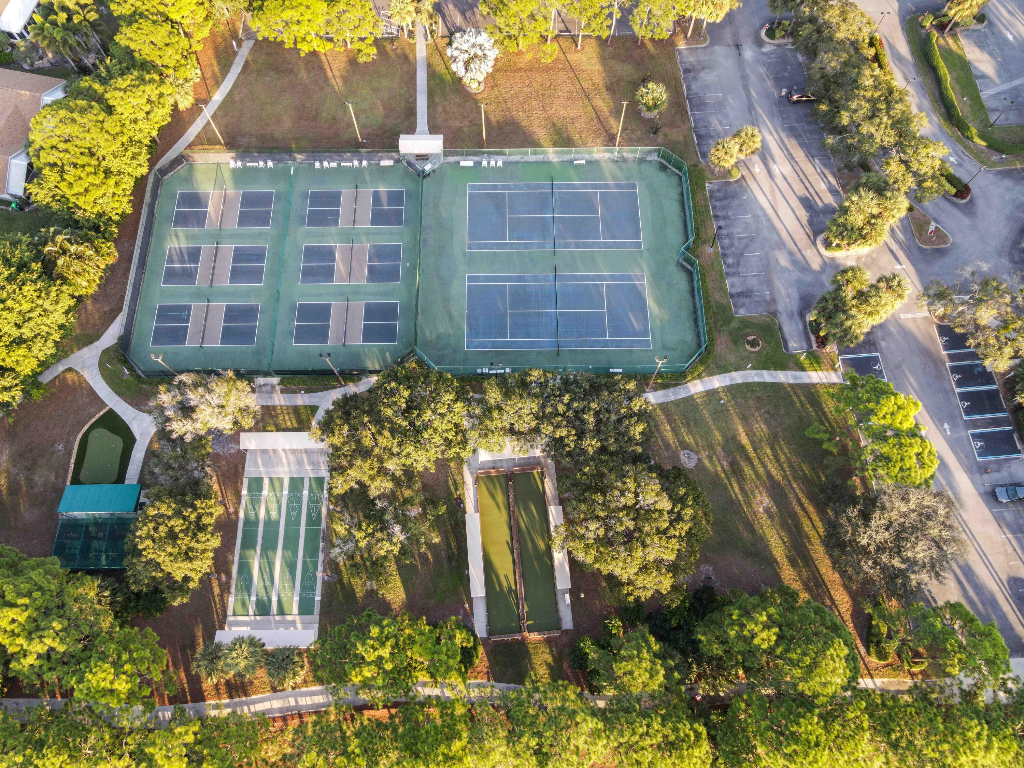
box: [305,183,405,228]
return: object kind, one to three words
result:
sports court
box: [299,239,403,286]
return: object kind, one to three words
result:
sports court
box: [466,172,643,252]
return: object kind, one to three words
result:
tennis court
